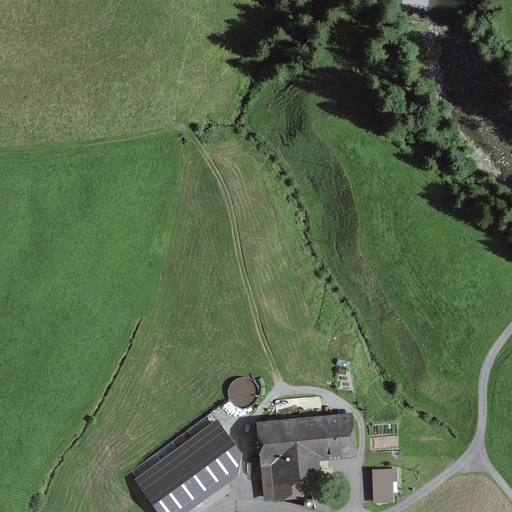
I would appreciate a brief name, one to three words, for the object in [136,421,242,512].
shed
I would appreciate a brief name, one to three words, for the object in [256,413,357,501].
house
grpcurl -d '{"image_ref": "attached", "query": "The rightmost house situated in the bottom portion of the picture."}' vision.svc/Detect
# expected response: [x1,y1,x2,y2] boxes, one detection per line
[372,467,401,506]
